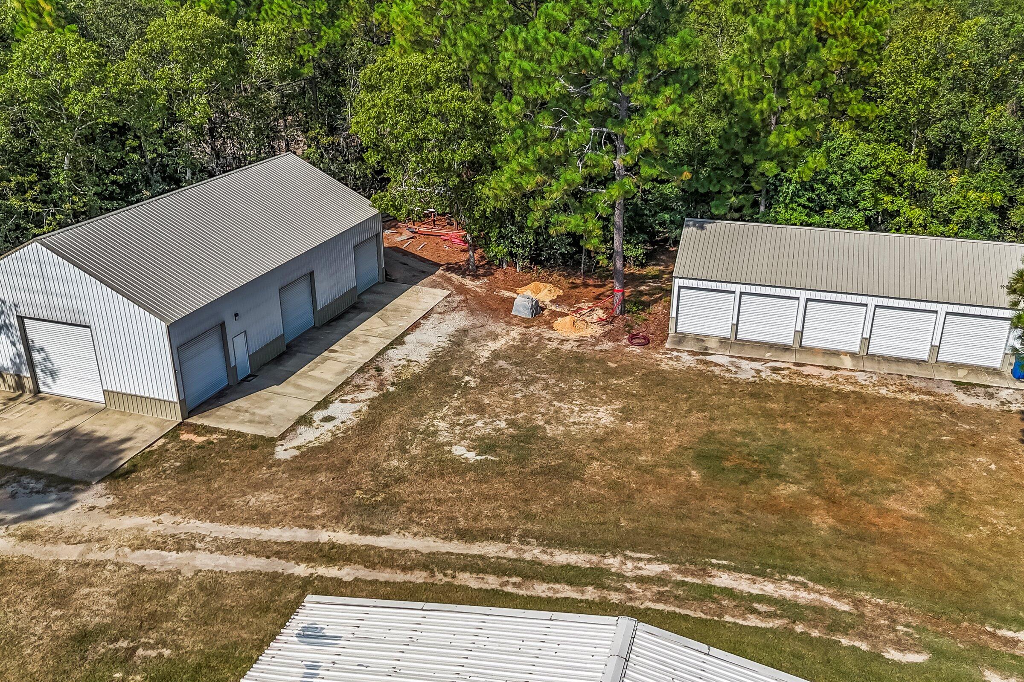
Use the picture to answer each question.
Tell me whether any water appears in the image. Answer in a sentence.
No, the scene doesn't show any water.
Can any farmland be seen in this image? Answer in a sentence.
No, farmland can't be seen anywhere here.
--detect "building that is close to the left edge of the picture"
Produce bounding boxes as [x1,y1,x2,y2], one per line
[0,152,385,421]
